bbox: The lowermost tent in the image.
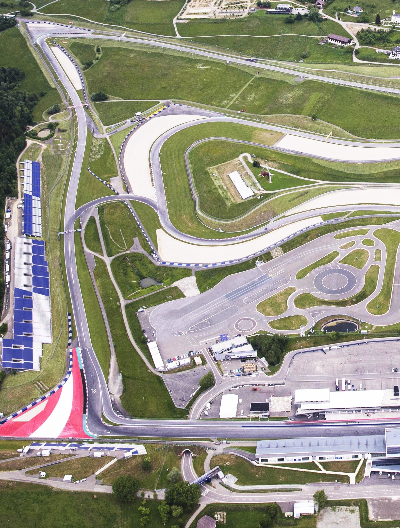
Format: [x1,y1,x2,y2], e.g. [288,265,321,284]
[219,393,239,418]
